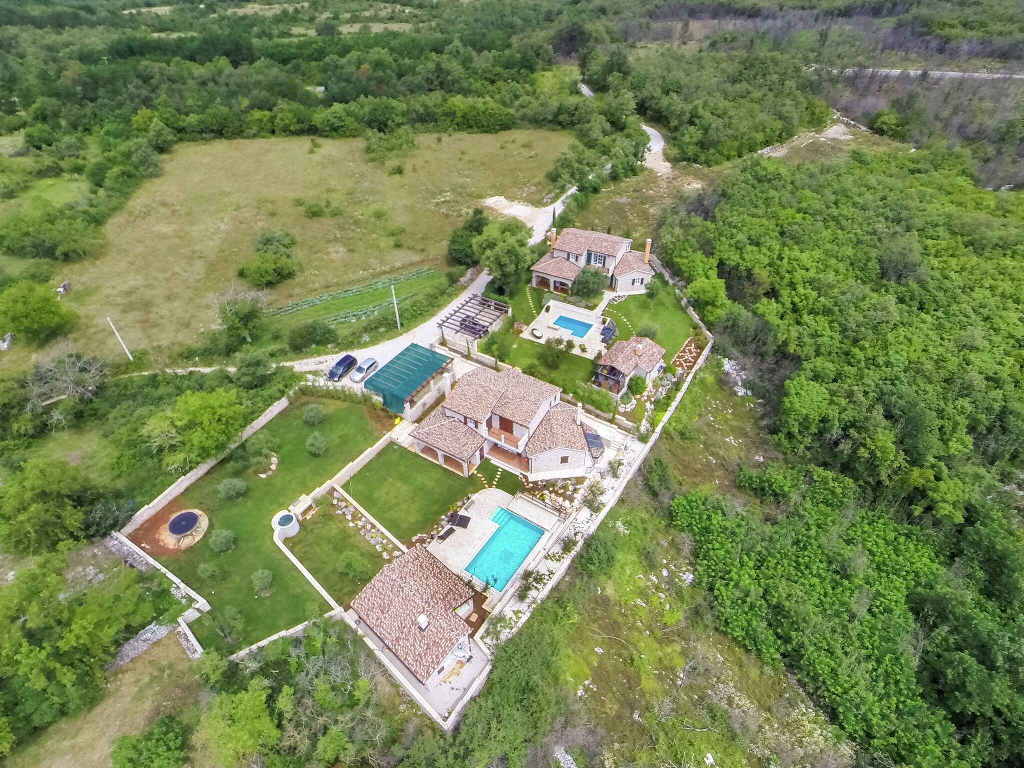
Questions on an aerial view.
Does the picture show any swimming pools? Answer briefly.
Yes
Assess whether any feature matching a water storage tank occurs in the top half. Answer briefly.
No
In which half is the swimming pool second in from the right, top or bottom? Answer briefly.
bottom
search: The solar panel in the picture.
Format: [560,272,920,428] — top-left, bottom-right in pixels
[582,427,603,445]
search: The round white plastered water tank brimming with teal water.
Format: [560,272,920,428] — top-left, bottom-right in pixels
[272,510,298,538]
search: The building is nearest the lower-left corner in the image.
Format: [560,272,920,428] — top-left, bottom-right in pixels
[351,544,475,689]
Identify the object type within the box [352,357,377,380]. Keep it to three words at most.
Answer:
car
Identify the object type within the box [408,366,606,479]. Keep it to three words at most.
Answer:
house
